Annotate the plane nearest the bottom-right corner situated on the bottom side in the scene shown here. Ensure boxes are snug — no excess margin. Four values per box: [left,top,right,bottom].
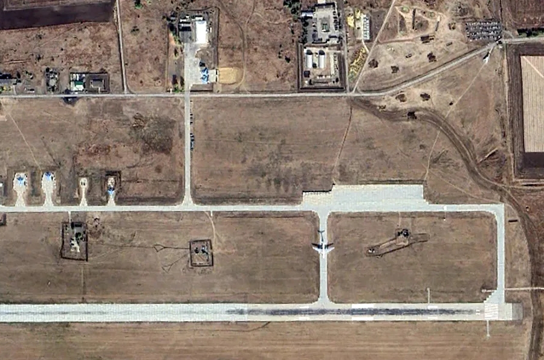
[313,240,334,258]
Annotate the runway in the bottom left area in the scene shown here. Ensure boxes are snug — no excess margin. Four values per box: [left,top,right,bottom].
[0,303,247,322]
